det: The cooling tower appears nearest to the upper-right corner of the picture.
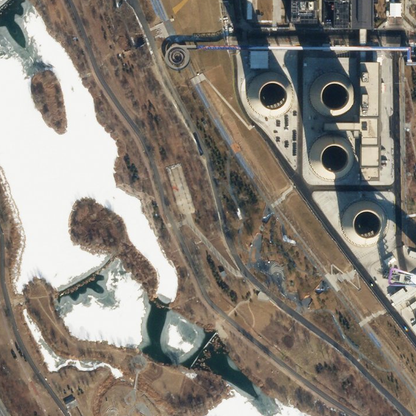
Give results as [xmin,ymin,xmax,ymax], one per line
[307,71,357,120]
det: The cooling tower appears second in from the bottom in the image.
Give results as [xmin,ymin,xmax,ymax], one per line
[308,134,358,183]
